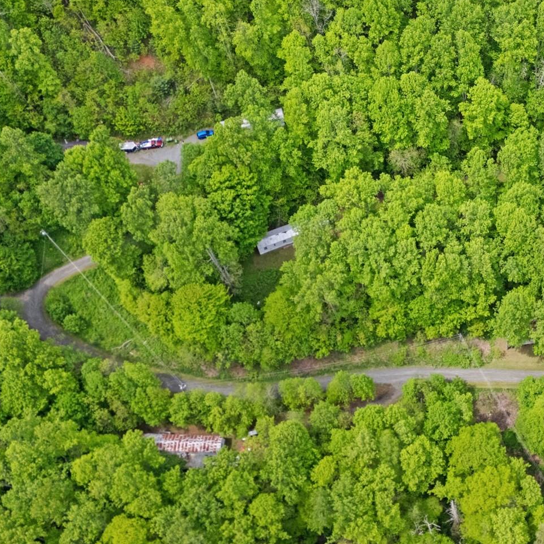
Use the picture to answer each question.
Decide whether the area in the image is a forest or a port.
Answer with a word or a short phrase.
forest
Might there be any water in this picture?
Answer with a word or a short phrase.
No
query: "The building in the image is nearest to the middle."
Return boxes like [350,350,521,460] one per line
[259,223,314,255]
